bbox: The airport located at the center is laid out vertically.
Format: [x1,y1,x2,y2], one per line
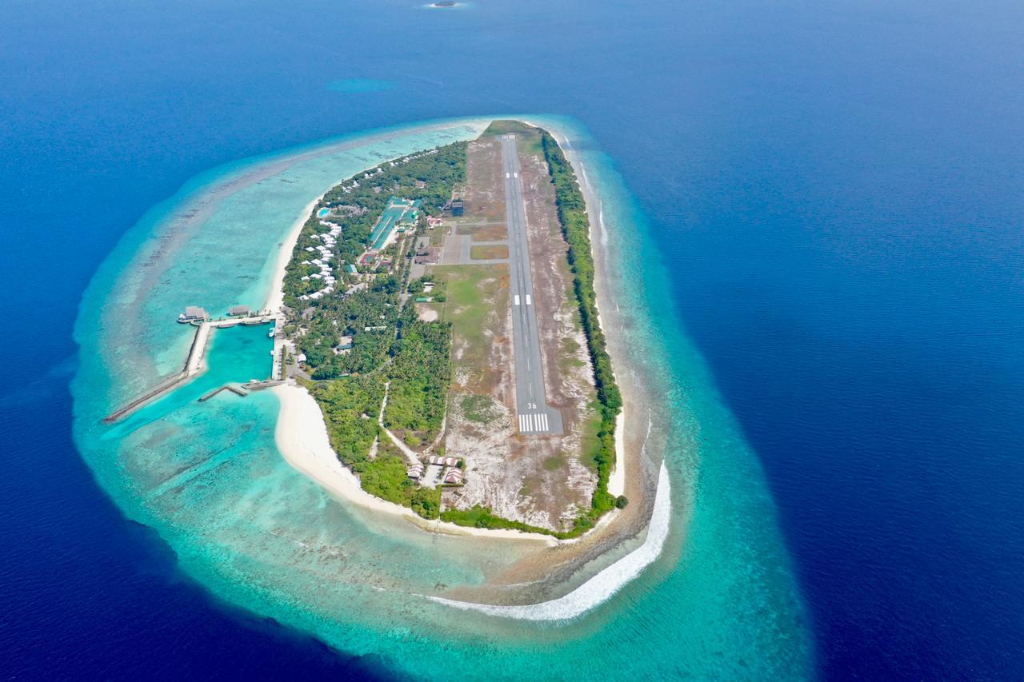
[439,133,564,435]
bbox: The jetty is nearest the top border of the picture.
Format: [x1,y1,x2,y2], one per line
[205,312,277,326]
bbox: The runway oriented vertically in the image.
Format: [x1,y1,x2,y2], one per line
[495,133,564,435]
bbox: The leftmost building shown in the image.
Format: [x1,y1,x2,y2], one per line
[173,308,209,326]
